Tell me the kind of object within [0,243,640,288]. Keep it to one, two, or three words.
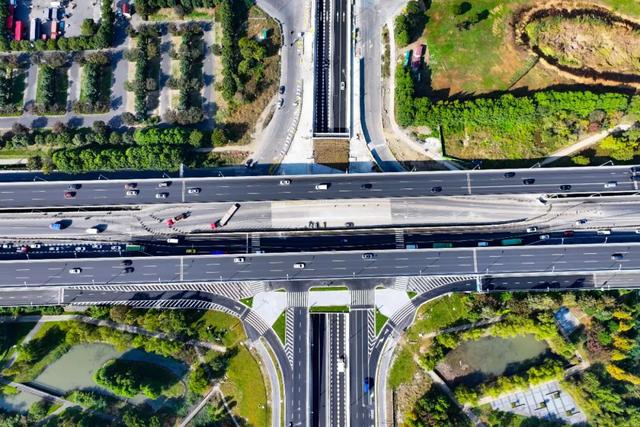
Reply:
bridge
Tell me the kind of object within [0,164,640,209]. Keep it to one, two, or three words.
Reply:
bridge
